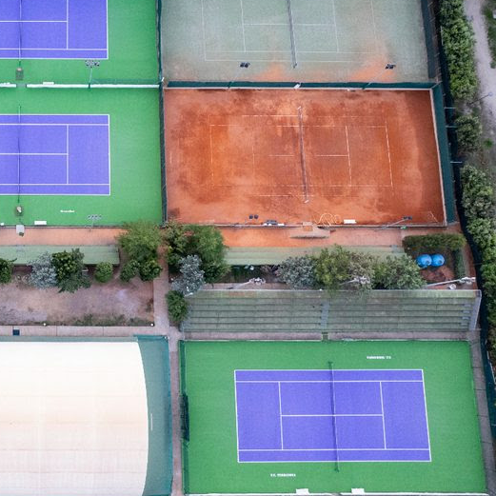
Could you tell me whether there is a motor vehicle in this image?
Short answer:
No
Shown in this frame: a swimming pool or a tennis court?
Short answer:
tennis court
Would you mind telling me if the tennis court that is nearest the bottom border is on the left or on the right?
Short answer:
right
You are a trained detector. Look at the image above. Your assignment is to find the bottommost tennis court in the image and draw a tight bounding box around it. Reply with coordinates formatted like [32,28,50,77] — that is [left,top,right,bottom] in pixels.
[185,341,486,493]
